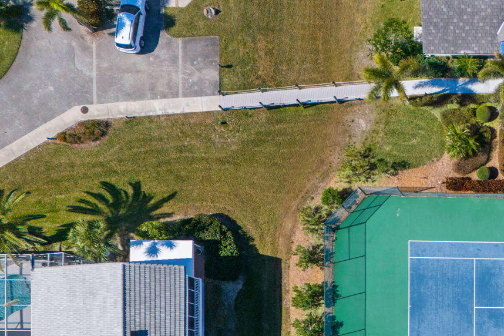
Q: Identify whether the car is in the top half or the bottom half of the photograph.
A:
top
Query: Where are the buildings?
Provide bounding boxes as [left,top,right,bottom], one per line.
[421,0,504,65]
[31,240,204,336]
